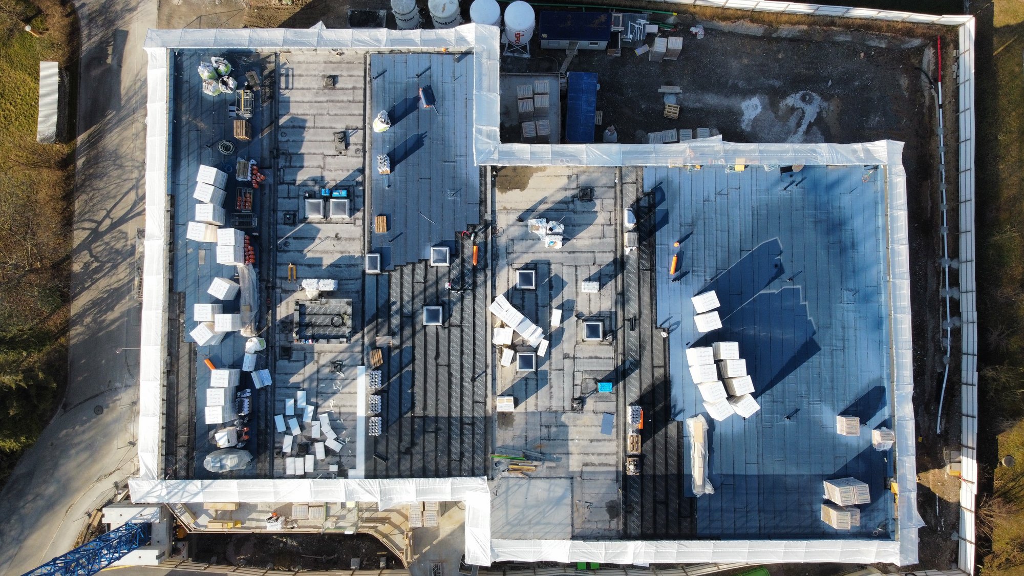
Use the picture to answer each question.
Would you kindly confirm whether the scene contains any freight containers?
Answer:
Yes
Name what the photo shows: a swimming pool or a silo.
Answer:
silo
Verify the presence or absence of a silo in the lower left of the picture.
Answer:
No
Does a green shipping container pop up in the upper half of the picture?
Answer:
No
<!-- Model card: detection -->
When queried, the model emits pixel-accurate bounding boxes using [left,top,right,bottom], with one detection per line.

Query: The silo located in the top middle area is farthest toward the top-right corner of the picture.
[499,2,537,58]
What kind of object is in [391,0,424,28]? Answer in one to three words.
silo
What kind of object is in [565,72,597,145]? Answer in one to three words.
shipping container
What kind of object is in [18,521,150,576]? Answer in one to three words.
crane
